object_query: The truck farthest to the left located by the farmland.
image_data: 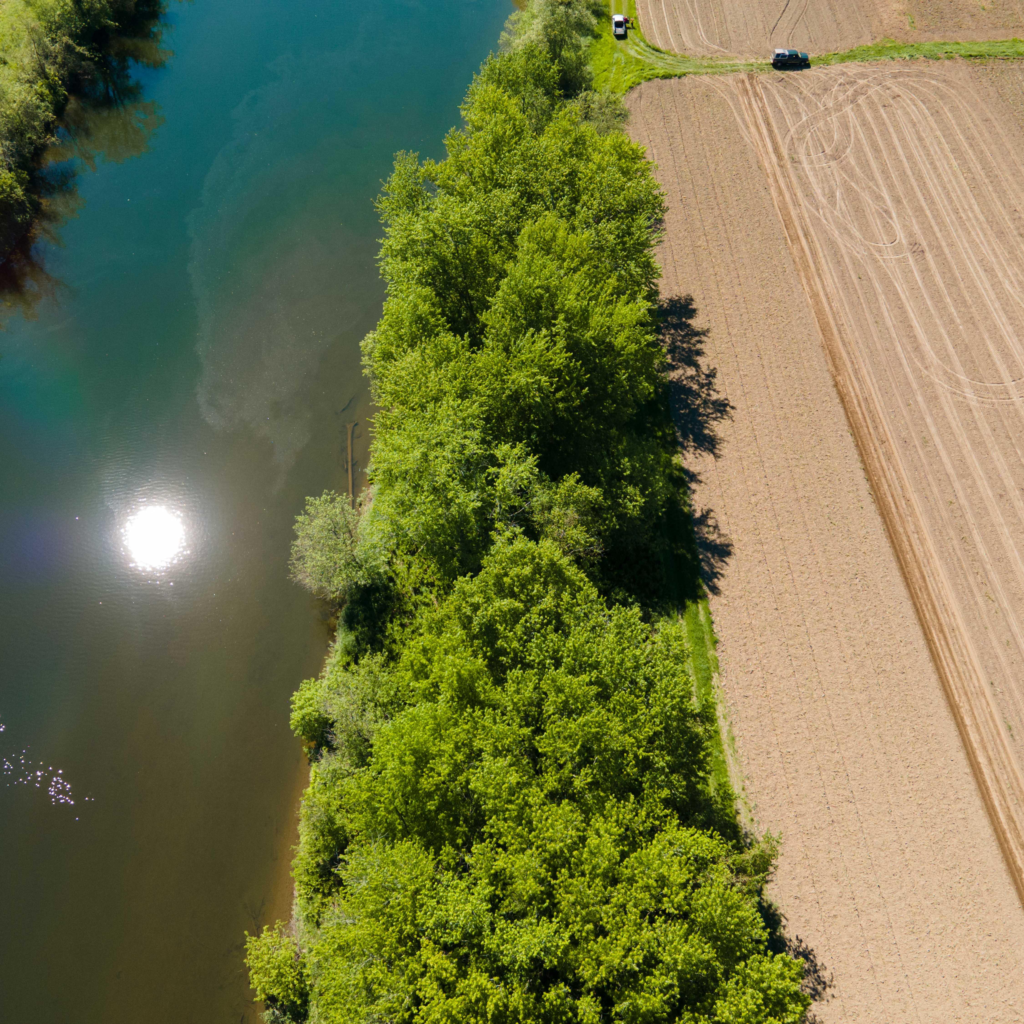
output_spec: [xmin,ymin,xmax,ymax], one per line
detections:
[609,13,631,35]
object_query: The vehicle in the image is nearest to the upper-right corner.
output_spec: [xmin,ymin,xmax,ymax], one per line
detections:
[768,47,810,66]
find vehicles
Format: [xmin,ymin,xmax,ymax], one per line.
[768,47,810,66]
[609,13,631,35]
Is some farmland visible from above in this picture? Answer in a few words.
Yes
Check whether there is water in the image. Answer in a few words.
Yes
